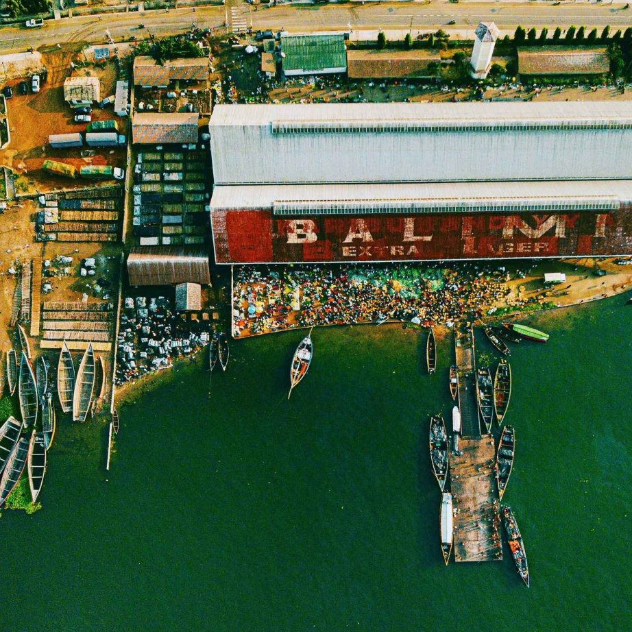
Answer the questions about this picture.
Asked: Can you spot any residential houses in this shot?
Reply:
Yes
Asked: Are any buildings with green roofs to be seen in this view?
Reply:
Yes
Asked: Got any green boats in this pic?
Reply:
Yes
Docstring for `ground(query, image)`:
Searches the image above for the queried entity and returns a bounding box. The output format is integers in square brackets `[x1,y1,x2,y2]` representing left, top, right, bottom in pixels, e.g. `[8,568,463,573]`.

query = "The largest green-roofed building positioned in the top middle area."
[283,30,348,79]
